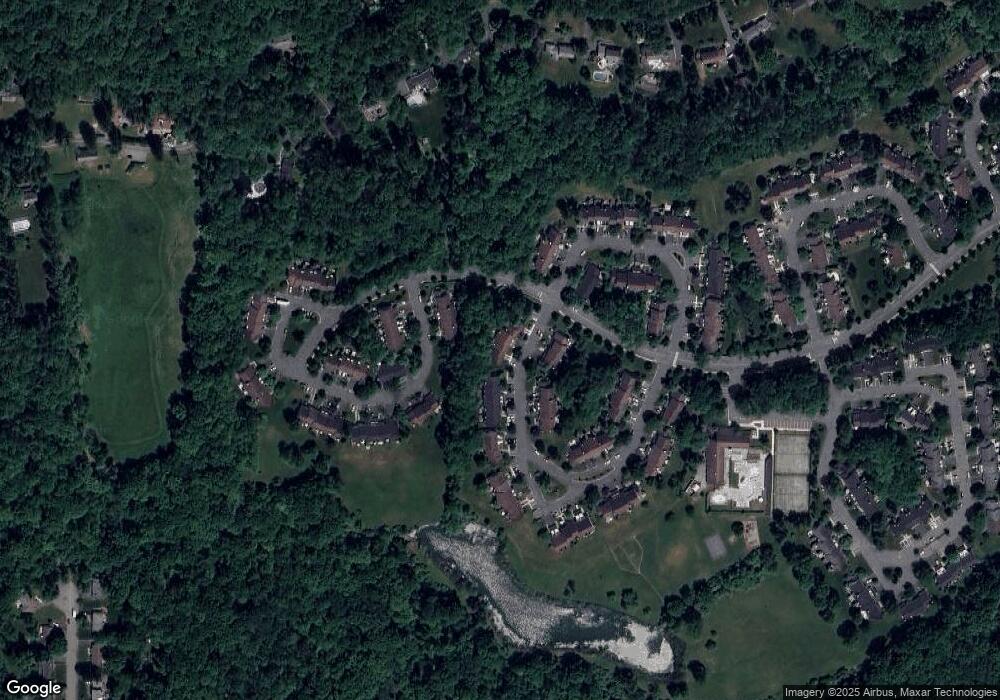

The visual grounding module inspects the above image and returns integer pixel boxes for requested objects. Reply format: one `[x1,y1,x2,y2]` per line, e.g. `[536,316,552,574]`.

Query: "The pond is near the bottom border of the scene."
[421,523,674,673]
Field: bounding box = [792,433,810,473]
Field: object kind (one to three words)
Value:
tennis court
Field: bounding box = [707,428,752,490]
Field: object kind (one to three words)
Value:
building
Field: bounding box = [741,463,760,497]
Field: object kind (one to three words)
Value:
swimming pool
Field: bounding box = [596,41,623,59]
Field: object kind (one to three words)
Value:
house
